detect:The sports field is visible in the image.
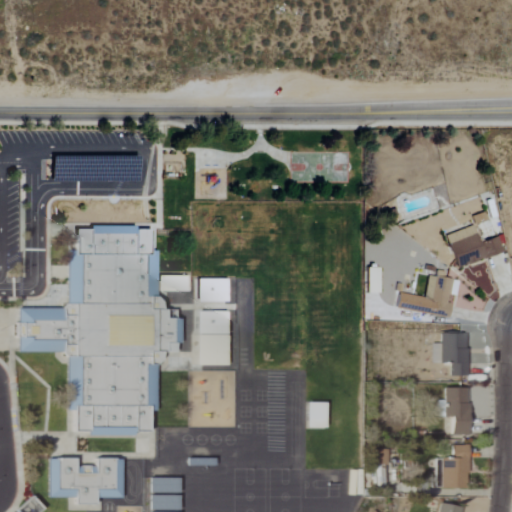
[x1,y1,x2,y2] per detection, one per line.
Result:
[194,201,362,469]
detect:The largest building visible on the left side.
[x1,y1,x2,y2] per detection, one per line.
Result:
[20,225,183,436]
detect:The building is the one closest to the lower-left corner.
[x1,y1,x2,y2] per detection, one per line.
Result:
[50,458,124,504]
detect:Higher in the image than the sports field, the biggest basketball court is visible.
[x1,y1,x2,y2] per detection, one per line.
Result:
[291,152,353,183]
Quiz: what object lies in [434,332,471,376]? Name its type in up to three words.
house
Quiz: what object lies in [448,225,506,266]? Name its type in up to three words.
house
